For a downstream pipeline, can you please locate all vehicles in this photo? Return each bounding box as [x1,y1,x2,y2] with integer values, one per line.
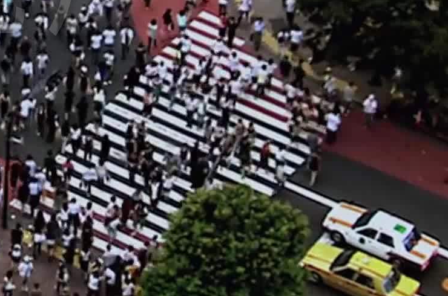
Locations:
[315,200,447,272]
[293,238,425,296]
